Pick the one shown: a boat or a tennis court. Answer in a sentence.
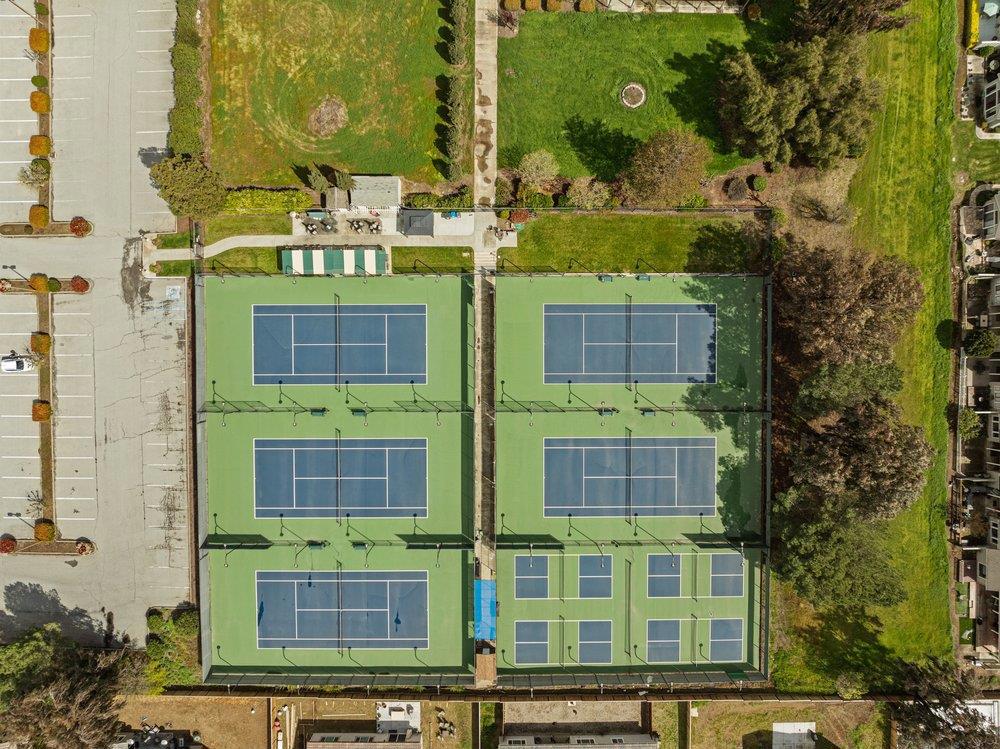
There is a tennis court in the scene.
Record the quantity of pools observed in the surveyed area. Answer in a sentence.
Not a single pool can be seen.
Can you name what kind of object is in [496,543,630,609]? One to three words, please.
sports court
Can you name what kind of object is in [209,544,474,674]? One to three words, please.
tennis court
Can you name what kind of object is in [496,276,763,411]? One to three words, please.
tennis court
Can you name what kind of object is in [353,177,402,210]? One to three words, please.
shed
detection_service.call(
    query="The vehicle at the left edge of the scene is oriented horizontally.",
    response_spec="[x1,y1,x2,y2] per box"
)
[1,356,34,373]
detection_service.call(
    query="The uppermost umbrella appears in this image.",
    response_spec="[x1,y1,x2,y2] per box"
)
[981,1,996,17]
